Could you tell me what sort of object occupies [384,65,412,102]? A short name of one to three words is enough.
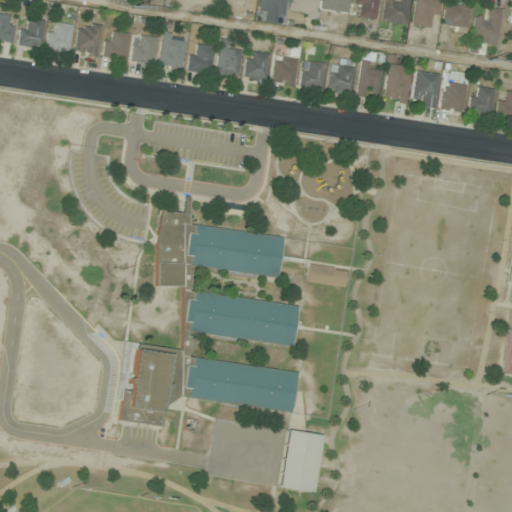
house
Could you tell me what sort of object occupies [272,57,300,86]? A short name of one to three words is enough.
house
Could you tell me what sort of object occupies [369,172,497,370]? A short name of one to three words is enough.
soccer field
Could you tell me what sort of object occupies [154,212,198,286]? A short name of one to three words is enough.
building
